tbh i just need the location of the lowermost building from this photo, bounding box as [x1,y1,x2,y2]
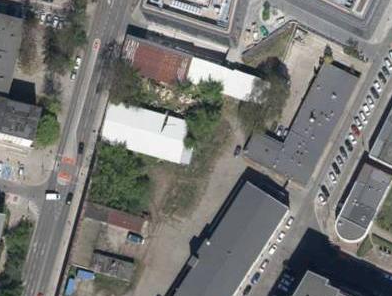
[295,271,340,296]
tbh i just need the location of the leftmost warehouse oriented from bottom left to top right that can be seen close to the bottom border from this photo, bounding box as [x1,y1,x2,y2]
[166,183,289,296]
